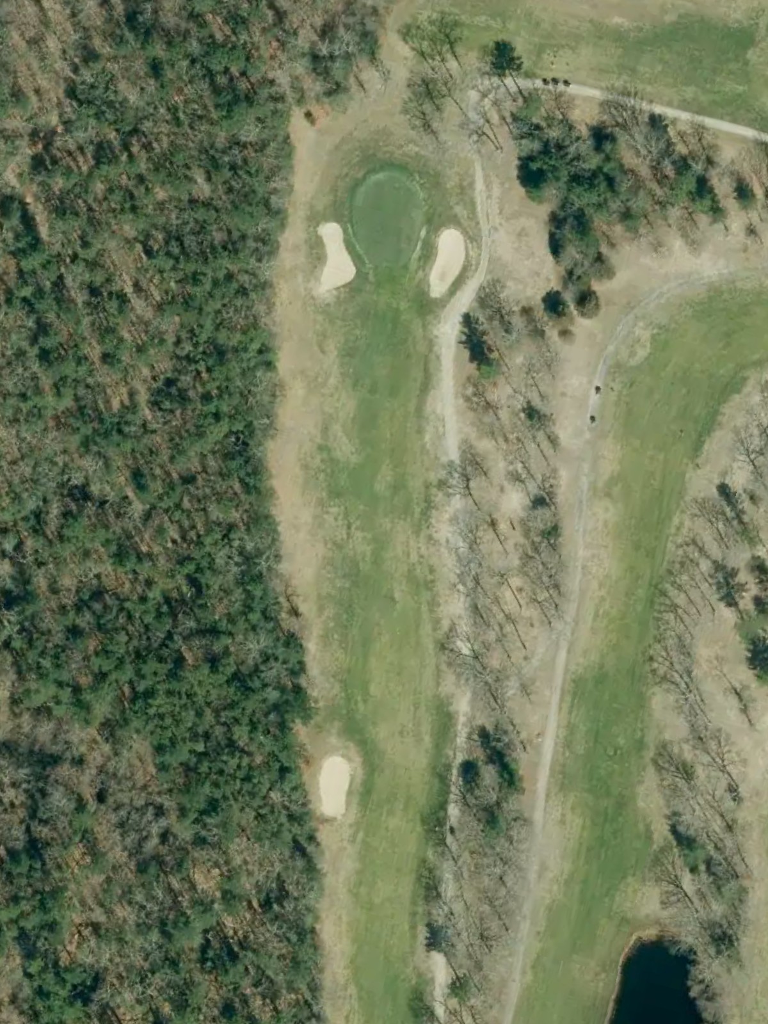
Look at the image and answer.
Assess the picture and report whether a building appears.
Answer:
No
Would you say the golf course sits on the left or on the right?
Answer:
right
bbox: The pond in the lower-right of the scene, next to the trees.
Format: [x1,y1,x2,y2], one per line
[607,938,703,1024]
